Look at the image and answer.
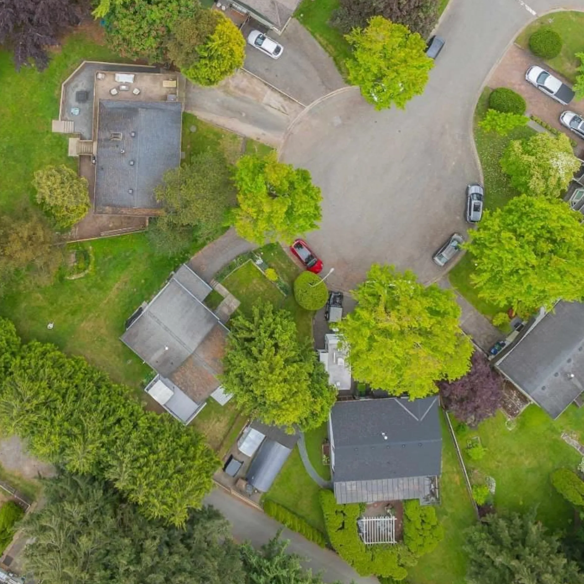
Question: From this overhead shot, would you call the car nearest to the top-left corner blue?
No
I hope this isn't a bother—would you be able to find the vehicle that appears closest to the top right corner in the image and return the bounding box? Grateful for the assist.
[525,66,577,107]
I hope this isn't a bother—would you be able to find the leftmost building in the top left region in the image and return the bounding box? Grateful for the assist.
[52,60,186,218]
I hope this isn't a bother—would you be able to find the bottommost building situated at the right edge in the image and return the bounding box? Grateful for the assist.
[485,310,584,420]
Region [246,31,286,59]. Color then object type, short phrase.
white car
